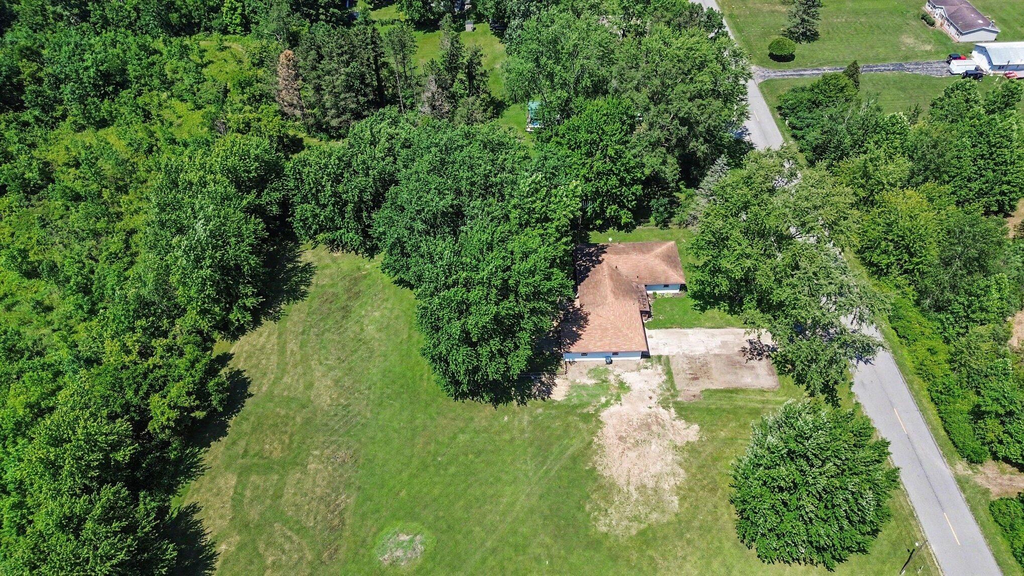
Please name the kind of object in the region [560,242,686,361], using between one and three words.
house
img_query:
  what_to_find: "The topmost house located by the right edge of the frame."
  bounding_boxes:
[912,0,1009,44]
